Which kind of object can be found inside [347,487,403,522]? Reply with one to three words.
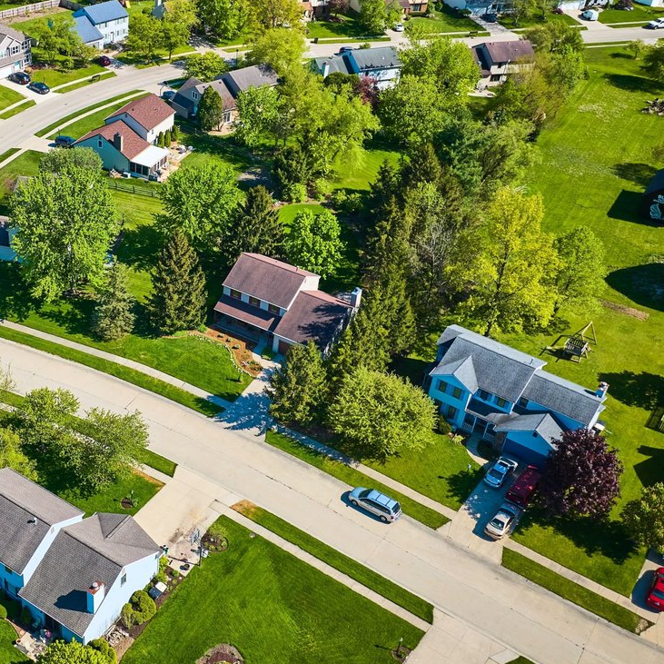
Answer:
car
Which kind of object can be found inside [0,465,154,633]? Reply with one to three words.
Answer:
house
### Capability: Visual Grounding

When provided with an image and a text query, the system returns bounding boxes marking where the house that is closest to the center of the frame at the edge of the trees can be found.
[212,253,363,370]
